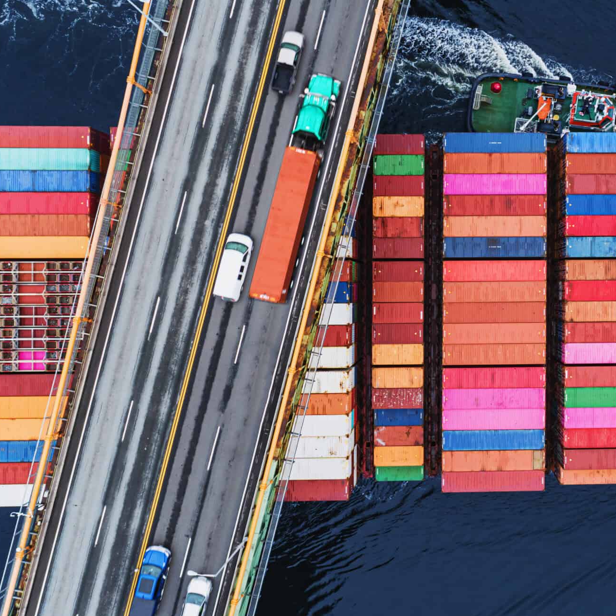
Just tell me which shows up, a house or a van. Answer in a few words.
van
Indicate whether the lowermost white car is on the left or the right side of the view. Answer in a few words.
left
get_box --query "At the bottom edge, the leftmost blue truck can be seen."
[130,543,174,616]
